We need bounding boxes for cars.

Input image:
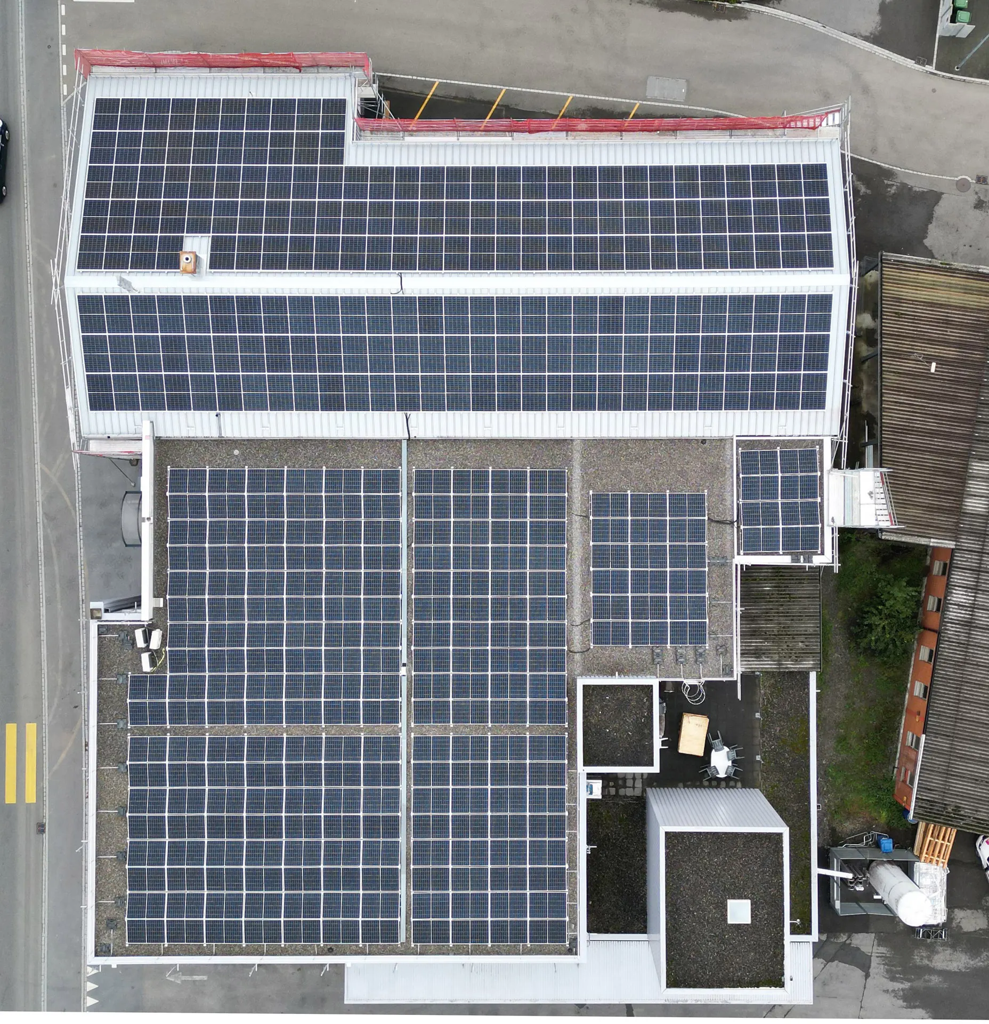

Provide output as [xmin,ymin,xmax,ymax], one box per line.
[0,117,11,201]
[974,835,989,885]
